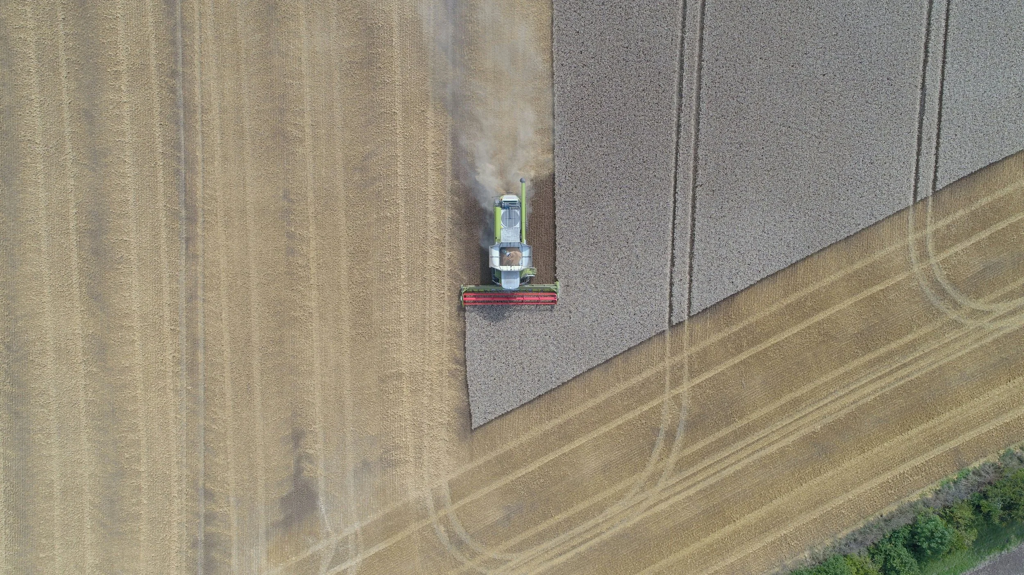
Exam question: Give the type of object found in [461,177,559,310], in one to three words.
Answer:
work vehicle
